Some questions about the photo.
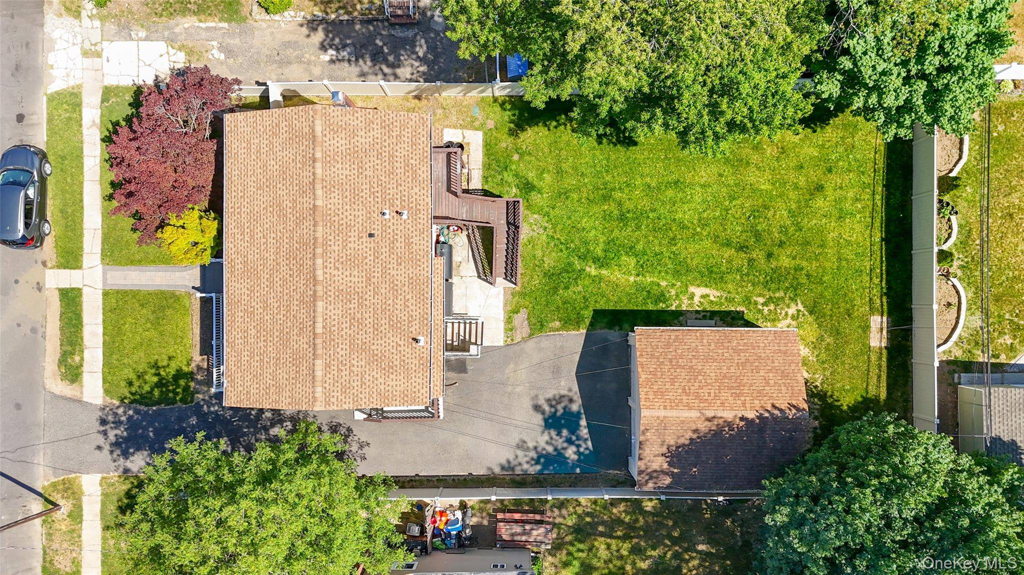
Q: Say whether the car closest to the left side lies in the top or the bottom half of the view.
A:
top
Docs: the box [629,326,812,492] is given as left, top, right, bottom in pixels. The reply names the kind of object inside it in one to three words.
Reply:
building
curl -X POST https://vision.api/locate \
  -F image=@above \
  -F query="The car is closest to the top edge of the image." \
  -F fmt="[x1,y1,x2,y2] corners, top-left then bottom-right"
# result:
[0,145,57,251]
